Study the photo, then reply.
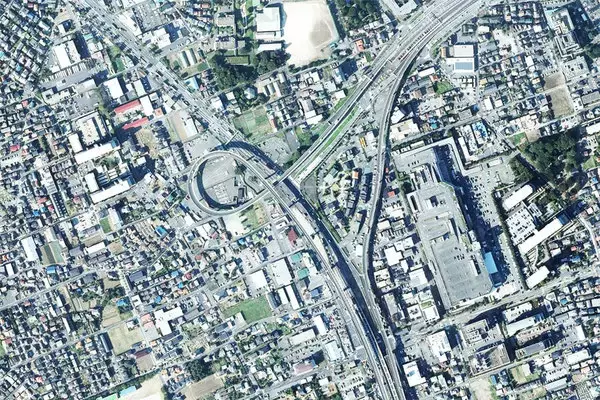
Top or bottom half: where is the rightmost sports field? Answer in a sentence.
Seen from above, the rightmost sports field lies in the top half of the view.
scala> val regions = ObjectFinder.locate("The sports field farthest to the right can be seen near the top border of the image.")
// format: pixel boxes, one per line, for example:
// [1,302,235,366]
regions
[281,0,341,65]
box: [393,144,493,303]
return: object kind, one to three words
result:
building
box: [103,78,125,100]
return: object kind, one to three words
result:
building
